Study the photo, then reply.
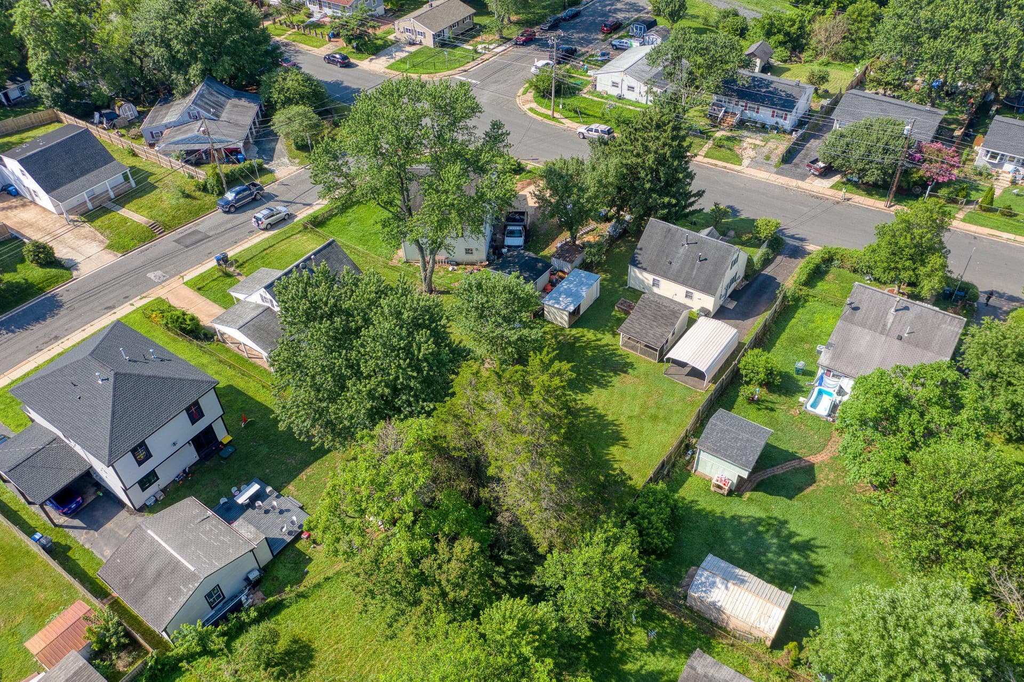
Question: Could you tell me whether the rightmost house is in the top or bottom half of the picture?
top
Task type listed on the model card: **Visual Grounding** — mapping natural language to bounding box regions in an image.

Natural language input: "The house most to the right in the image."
[979,115,1024,187]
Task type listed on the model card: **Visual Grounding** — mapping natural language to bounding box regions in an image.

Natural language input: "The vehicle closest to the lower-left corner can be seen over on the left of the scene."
[49,488,86,523]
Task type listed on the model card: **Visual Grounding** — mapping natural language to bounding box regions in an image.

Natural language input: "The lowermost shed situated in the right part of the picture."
[674,639,774,682]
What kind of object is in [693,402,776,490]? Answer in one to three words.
shed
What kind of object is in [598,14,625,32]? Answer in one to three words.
vehicle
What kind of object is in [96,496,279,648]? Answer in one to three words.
building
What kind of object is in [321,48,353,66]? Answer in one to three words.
car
